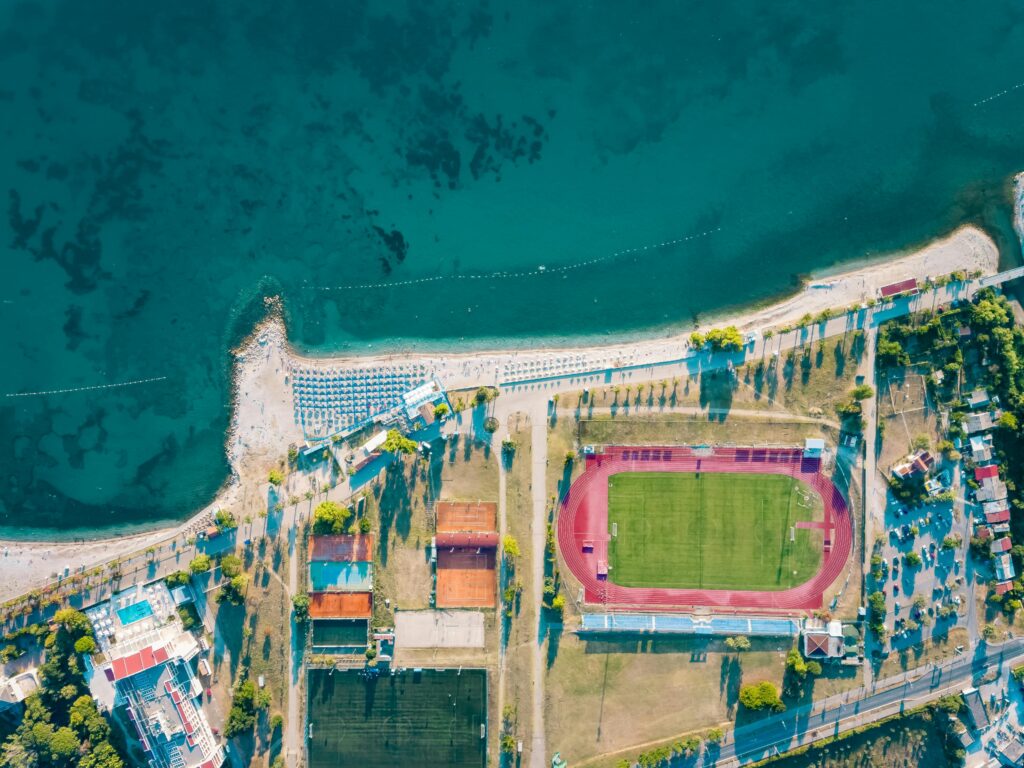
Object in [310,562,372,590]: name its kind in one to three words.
tennis court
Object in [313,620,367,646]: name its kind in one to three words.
sports court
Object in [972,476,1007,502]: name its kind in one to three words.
house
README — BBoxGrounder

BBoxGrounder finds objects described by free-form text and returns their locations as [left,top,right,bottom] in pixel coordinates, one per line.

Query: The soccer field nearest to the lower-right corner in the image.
[609,473,836,587]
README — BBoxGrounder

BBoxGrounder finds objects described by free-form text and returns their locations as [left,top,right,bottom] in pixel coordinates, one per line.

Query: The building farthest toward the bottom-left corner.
[0,664,41,704]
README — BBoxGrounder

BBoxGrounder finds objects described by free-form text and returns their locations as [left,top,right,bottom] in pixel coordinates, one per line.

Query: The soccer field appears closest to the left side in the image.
[306,669,486,768]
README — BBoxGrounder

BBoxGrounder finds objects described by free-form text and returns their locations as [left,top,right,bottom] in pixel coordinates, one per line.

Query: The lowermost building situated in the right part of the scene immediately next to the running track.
[803,617,845,657]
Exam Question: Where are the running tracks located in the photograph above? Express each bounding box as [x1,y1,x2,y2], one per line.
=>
[558,447,853,611]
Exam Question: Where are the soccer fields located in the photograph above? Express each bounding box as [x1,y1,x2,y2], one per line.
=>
[609,473,836,587]
[306,669,486,768]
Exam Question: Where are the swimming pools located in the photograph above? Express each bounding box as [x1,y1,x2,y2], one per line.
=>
[117,600,152,624]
